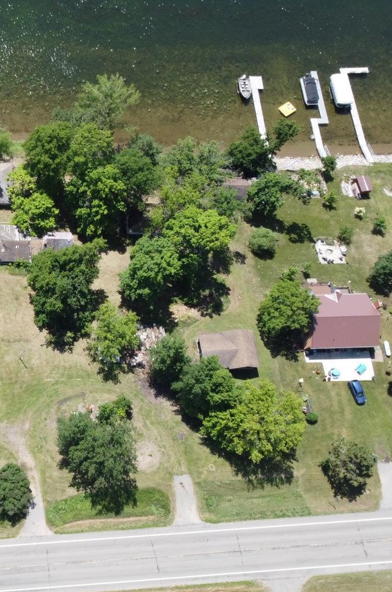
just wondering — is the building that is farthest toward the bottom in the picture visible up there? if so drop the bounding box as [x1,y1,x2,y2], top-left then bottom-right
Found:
[195,330,259,373]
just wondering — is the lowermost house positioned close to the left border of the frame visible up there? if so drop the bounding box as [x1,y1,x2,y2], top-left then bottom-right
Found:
[0,225,76,268]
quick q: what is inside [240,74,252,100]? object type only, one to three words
boat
